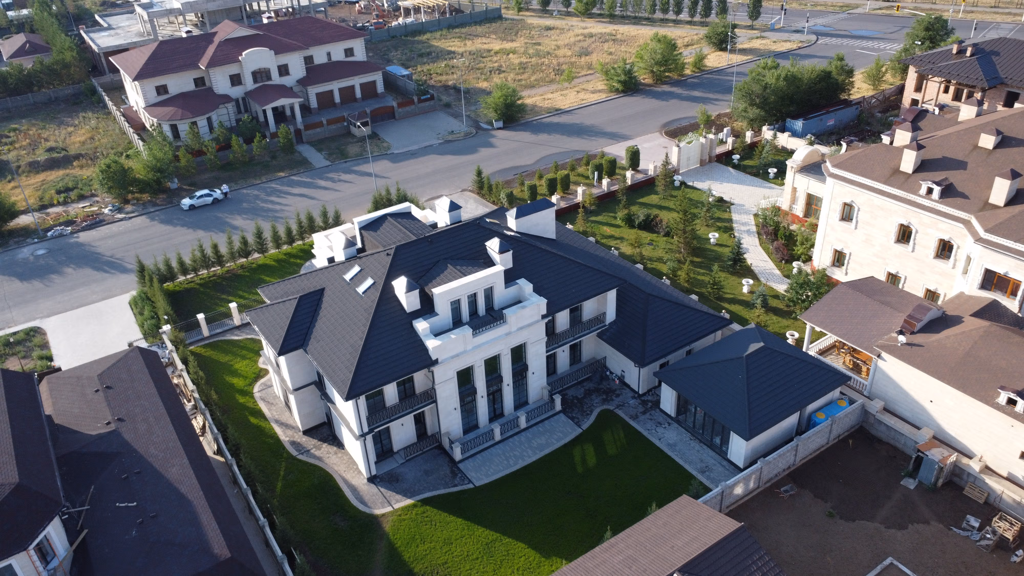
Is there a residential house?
Yes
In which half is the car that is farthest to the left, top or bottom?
top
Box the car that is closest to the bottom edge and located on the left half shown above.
[179,188,222,209]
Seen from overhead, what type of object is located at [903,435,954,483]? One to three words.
shed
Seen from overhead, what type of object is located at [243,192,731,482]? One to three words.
house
